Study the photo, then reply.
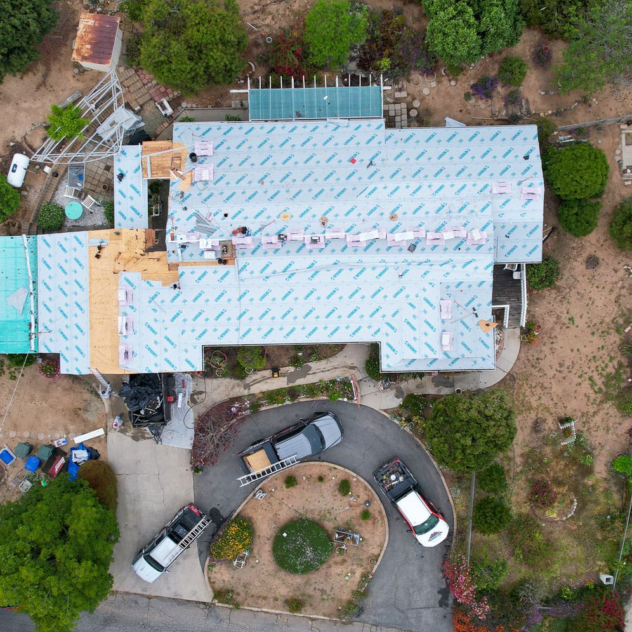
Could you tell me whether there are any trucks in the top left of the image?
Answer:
No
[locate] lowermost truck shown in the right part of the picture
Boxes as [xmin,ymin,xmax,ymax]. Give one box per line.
[373,456,444,547]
